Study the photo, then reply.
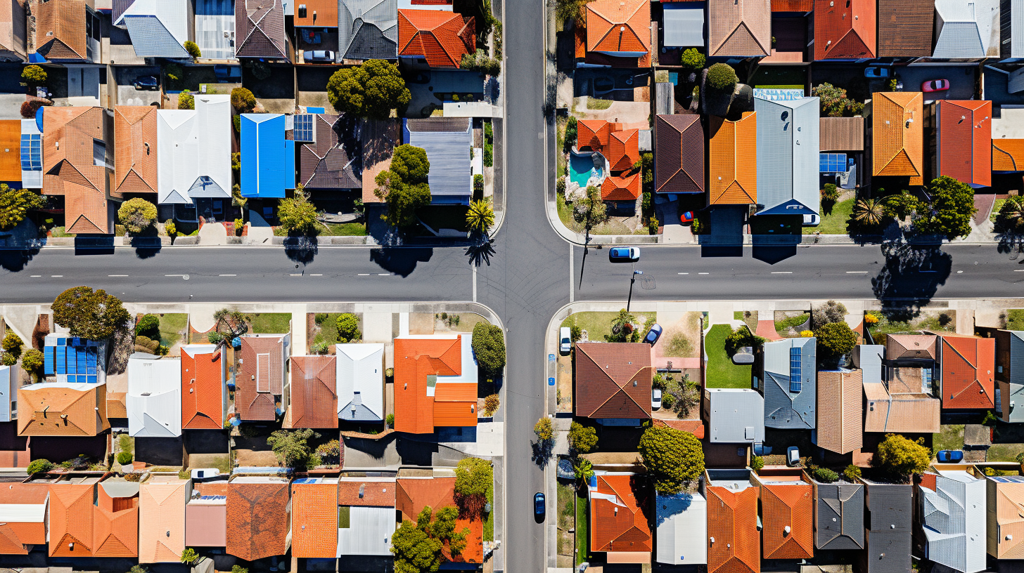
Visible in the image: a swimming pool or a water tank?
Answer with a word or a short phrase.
swimming pool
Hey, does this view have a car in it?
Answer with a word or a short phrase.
Yes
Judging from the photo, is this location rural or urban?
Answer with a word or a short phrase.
urban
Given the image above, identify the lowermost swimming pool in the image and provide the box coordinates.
[565,146,611,204]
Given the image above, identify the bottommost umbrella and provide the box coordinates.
[557,460,575,478]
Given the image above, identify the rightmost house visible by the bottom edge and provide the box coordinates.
[987,484,1024,561]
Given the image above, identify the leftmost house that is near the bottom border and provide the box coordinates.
[0,479,61,556]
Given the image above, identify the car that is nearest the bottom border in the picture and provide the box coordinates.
[532,491,547,521]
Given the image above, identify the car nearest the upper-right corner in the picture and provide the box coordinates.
[919,76,948,93]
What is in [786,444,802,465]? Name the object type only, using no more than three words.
car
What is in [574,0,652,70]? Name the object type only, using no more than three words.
house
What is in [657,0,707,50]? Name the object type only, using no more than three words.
house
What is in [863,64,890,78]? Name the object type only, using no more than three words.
car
